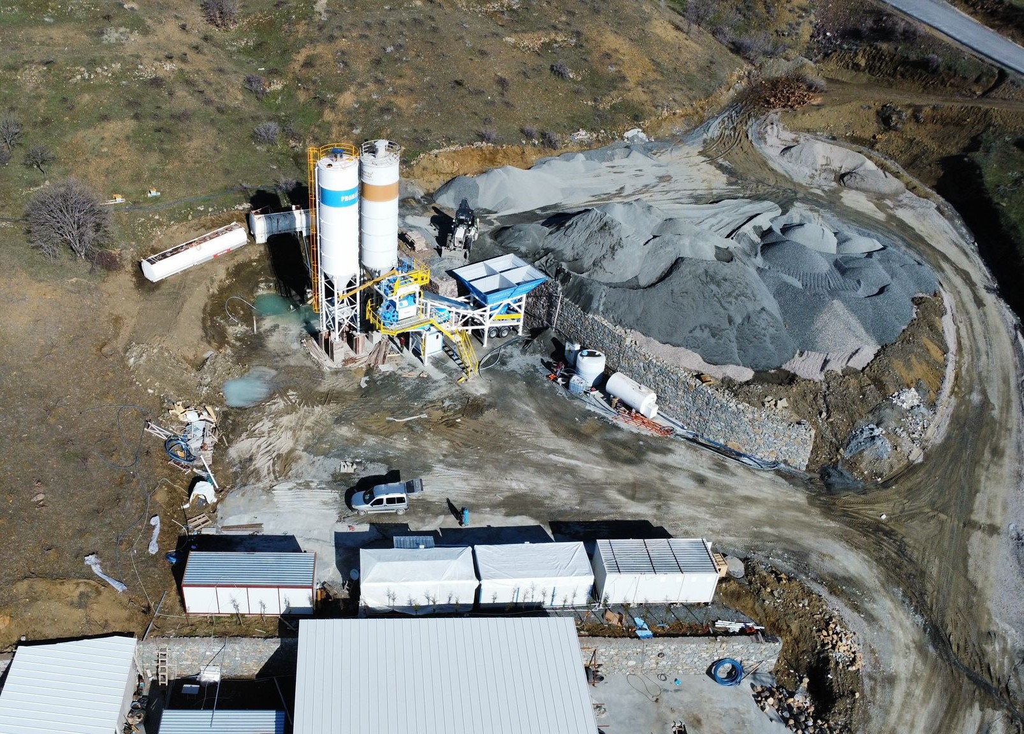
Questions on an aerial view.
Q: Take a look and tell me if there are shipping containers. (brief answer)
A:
Yes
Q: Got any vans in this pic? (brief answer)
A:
Yes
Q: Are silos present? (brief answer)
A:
Yes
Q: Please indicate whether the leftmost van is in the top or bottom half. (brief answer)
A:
bottom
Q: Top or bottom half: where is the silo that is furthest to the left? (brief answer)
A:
top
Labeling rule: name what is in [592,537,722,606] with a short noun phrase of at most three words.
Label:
shipping container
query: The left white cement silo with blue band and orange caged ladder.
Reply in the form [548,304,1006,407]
[308,142,366,358]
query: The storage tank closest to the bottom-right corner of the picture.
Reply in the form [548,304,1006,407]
[605,372,658,417]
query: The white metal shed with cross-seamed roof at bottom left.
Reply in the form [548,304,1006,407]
[0,631,143,734]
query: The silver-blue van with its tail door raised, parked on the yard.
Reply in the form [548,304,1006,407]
[350,477,423,515]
